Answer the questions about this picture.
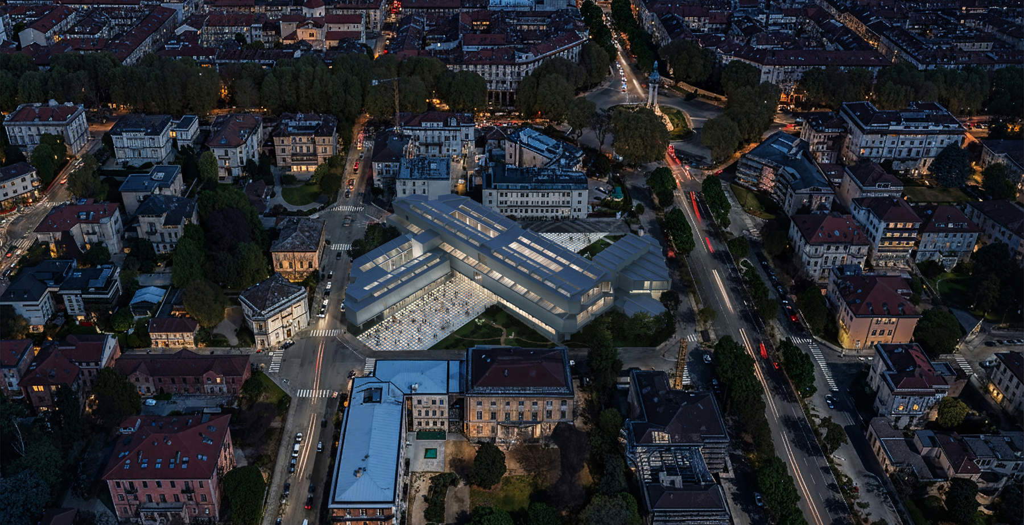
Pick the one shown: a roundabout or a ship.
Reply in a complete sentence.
Of the two, only a roundabout appears.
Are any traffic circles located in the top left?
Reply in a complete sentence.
No, no traffic circle can be made out in the top left.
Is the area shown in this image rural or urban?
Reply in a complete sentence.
From above, the setting appears urban.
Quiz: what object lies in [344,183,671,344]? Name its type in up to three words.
building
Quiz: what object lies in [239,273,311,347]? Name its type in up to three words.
house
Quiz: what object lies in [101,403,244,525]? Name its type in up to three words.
house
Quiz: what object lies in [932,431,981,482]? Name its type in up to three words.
building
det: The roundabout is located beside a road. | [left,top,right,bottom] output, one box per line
[563,88,729,160]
